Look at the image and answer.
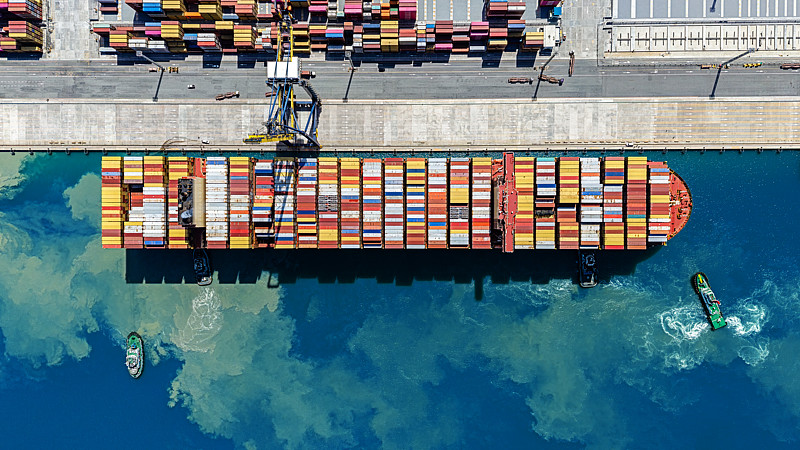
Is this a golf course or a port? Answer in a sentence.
The area seen from above is a port.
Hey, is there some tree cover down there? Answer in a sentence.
No, there is no tree cover in the image.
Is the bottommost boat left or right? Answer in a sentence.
It is on the left.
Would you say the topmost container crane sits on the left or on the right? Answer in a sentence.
The topmost container crane appears in the left half of the scene.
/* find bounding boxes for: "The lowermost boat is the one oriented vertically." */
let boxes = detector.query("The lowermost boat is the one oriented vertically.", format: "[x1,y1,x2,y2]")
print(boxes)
[123,332,144,380]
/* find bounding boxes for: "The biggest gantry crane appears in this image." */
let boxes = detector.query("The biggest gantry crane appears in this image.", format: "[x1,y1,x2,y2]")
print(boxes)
[235,11,321,148]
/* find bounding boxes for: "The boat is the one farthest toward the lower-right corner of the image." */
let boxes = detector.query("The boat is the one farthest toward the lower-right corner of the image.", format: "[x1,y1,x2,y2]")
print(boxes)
[695,271,728,332]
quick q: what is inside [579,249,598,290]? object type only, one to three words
boat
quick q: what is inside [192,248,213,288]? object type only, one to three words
boat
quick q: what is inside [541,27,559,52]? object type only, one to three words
shed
